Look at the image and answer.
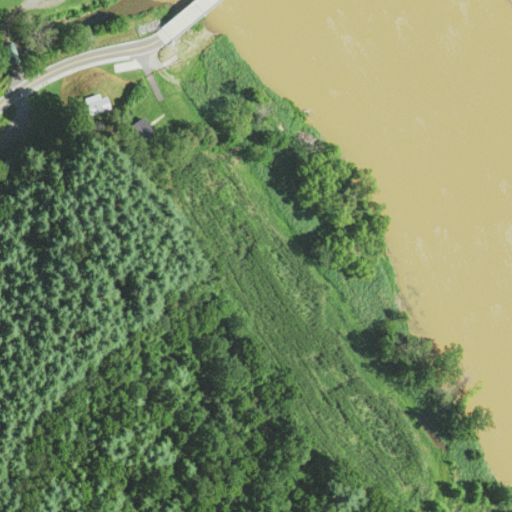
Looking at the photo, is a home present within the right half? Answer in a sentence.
No, within the right half there is no home.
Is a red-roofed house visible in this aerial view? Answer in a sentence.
No, there appears to be no red-roofed house in this shot.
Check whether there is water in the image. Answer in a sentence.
Yes, there's water in this view.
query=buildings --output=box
[82,93,112,118]
[134,116,154,136]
